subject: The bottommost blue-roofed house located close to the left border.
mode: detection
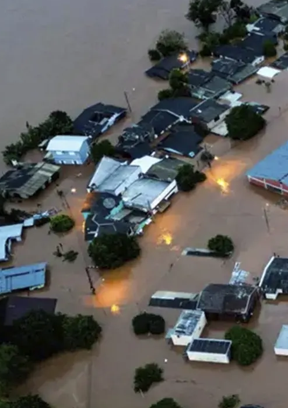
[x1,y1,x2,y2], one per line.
[0,262,47,298]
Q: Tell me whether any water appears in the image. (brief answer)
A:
Yes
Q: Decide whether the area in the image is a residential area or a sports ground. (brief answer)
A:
residential area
